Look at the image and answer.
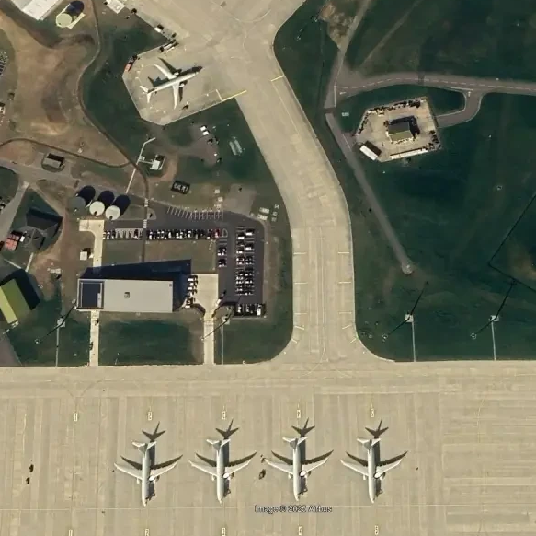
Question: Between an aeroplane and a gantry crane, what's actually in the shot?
aeroplane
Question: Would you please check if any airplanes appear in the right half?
Yes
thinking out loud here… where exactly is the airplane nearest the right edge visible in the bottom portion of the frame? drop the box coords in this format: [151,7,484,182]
[338,436,404,501]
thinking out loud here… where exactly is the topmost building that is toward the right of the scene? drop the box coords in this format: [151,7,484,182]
[388,118,416,141]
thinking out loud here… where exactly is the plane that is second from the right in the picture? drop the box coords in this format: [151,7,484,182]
[265,435,329,500]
